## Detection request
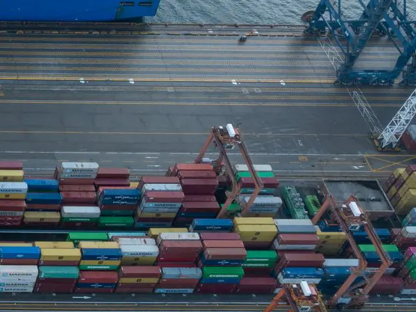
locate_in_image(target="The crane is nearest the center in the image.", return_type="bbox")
[194,122,268,220]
